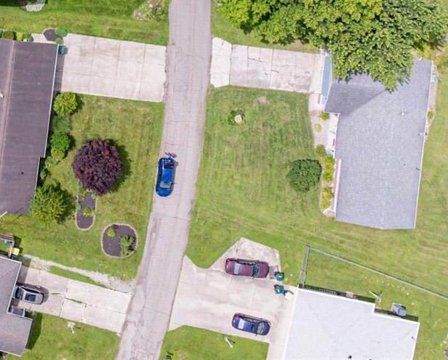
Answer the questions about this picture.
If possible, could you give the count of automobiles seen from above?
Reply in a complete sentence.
The number of automobiles here is 4.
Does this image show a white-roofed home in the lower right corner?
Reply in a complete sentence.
Yes, in the lower right corner there is a white-roofed home.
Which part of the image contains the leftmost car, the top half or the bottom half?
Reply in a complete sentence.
The leftmost car sits in the bottom half of the picture.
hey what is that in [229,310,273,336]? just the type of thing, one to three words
car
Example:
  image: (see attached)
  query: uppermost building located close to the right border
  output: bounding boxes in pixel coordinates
[317,51,431,230]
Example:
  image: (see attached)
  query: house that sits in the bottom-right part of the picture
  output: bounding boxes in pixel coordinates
[275,286,420,360]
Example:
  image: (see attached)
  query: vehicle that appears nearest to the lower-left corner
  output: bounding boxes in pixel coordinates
[12,281,46,306]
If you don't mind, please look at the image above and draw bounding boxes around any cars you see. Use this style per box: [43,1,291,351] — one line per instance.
[155,158,175,196]
[12,281,46,306]
[229,310,273,336]
[225,257,267,279]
